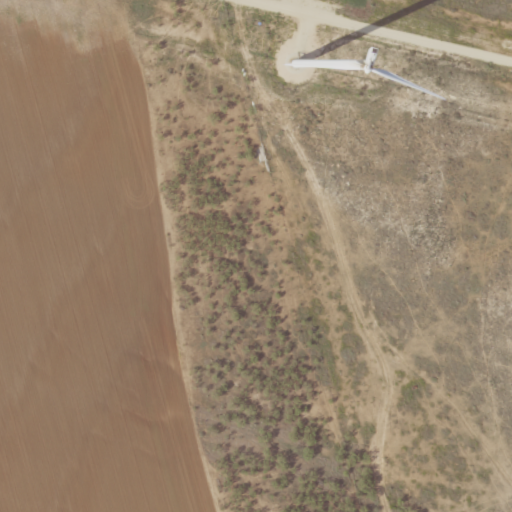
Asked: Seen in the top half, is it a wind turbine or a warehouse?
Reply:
wind turbine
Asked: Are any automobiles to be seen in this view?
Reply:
No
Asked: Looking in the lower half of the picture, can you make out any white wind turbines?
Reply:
No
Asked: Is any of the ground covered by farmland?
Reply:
Yes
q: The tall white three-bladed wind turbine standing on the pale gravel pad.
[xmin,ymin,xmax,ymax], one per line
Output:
[286,46,444,98]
